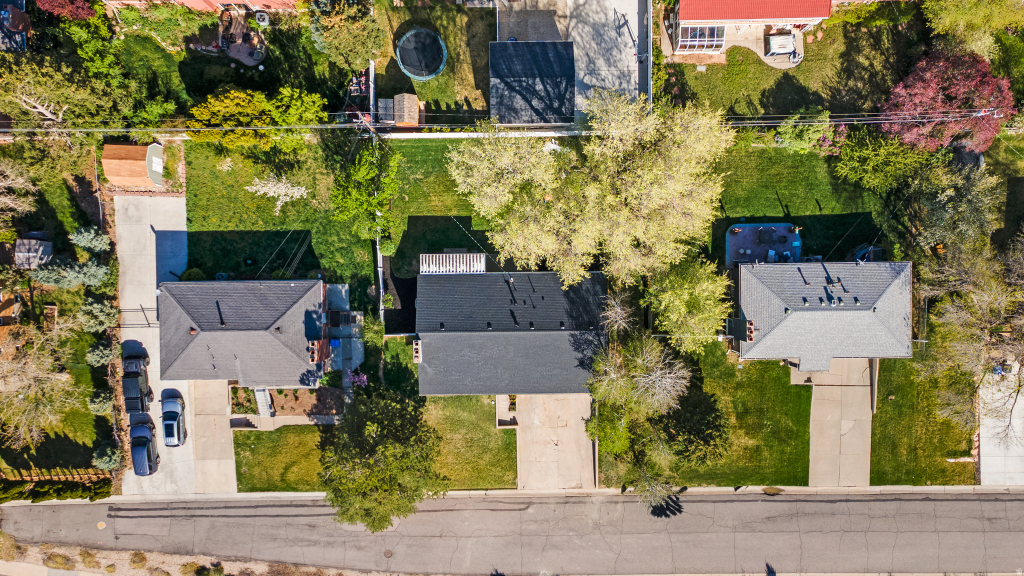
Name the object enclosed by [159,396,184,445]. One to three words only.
car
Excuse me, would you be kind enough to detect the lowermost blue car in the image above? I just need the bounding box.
[131,424,159,475]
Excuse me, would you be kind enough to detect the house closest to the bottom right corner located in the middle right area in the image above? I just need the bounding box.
[721,260,913,373]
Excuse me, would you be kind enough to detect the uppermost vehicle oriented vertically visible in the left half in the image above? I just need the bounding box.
[119,357,147,417]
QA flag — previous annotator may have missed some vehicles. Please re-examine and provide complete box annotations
[159,396,184,445]
[119,357,147,417]
[131,424,159,475]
